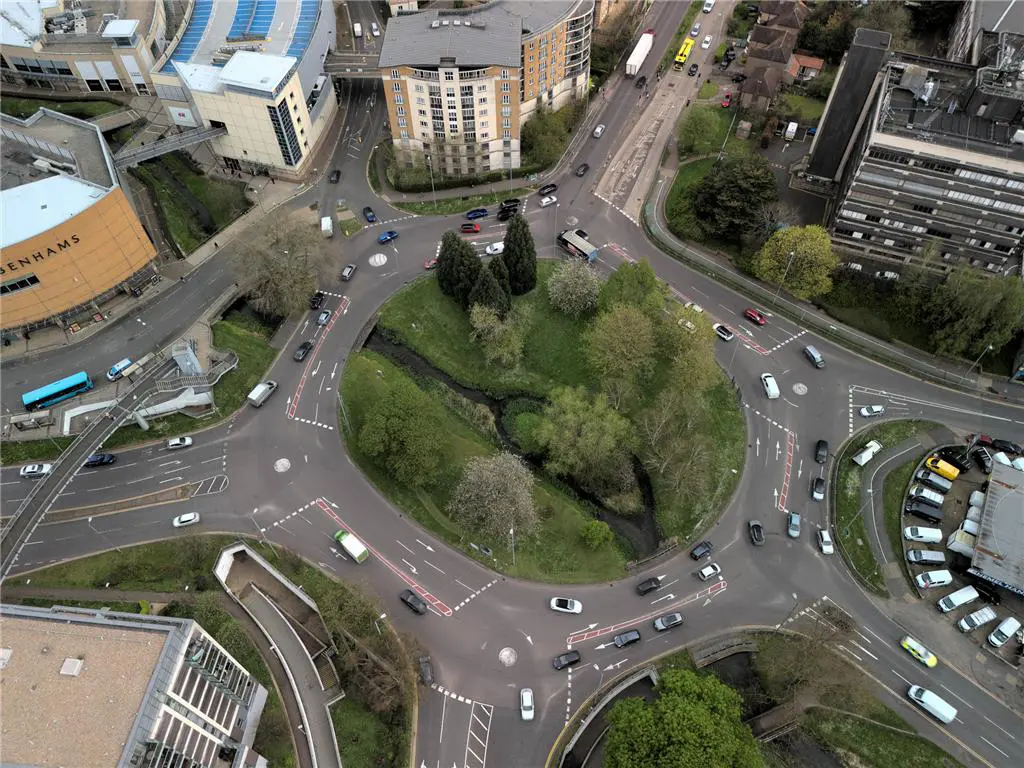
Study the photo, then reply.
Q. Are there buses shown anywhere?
Yes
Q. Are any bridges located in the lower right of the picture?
No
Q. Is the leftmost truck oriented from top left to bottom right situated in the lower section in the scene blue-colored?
No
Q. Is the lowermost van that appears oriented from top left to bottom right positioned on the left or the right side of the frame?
right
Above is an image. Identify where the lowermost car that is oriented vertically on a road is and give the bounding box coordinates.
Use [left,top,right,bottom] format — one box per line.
[519,687,535,722]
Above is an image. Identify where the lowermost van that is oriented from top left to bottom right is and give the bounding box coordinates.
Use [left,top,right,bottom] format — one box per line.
[910,684,959,724]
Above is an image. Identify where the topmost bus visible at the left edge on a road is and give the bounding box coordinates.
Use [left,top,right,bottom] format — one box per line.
[19,369,97,412]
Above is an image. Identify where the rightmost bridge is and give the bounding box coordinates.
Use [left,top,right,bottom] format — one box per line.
[325,51,383,79]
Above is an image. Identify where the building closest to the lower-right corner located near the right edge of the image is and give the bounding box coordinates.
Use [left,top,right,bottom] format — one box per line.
[956,466,1024,609]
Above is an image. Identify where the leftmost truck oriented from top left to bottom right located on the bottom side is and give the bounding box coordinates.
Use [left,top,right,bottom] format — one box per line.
[328,525,376,568]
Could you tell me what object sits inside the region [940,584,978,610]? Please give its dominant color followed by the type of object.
white vehicle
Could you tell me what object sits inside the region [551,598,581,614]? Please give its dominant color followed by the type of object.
white car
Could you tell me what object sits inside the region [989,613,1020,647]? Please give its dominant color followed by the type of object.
white van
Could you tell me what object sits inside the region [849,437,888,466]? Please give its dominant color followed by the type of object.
white truck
